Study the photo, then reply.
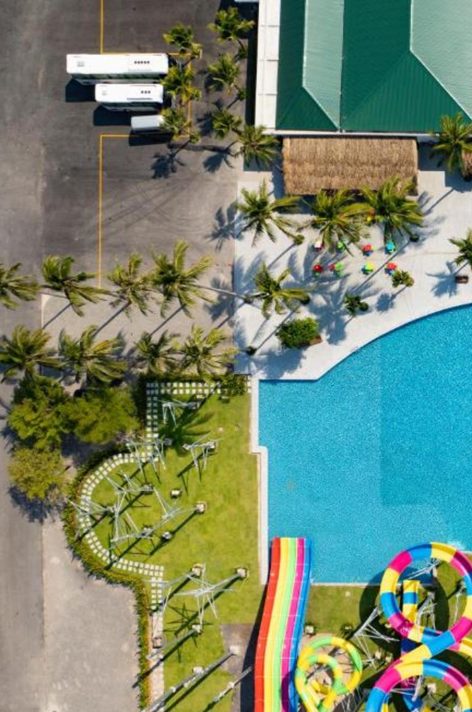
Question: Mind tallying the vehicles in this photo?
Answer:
three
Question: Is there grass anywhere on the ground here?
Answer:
Yes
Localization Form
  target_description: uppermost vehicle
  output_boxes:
[67,51,181,85]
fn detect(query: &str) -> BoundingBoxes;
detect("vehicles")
[95,82,176,114]
[67,51,181,85]
[133,116,178,137]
